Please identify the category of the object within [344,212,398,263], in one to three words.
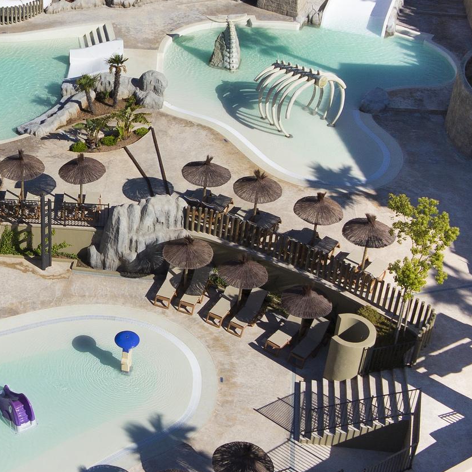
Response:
umbrella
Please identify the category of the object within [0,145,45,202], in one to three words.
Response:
umbrella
